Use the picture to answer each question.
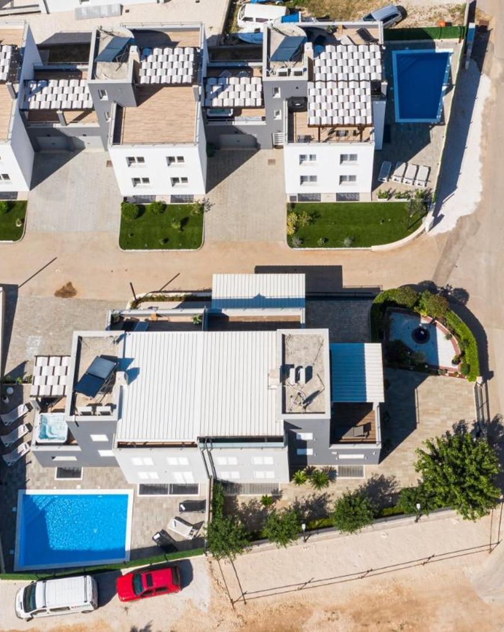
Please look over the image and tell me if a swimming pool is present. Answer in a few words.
Yes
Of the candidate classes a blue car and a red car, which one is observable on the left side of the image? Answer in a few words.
red car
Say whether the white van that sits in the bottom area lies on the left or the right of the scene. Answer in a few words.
left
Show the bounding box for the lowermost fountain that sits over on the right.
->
[413,324,432,343]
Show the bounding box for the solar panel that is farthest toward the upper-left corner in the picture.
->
[94,33,134,73]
